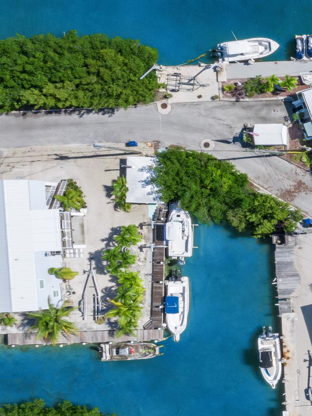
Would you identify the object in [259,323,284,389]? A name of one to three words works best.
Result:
boat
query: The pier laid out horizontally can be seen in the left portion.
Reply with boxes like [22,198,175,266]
[8,329,164,347]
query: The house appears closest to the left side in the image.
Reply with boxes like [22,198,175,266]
[0,179,89,313]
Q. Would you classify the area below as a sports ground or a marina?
marina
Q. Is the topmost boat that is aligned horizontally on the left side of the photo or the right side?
right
